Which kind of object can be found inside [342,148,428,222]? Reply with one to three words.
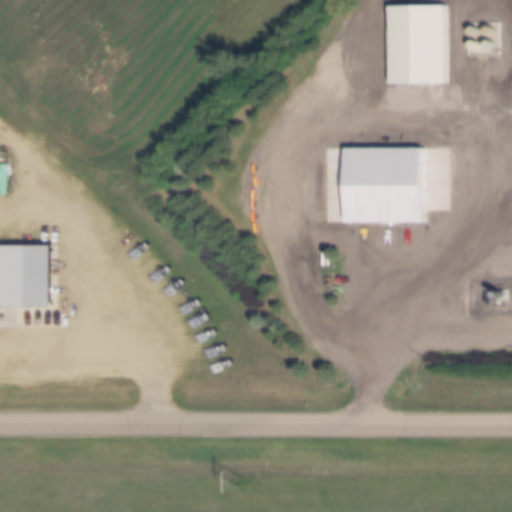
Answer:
building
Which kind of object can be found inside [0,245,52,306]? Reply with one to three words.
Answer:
building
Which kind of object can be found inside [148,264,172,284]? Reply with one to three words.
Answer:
vehicle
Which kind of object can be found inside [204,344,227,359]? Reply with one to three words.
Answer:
vehicle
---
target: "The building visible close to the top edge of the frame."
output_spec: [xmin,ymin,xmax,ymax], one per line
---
[388,4,448,82]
